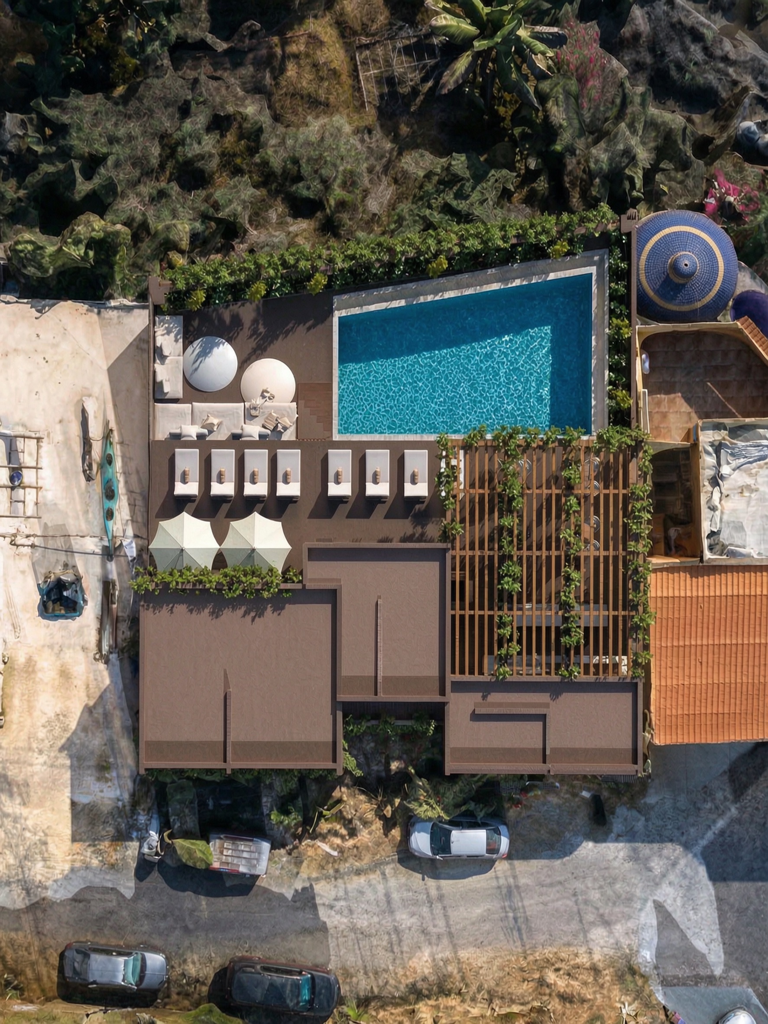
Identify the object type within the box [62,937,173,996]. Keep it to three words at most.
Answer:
car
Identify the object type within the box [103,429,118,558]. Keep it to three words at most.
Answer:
boat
